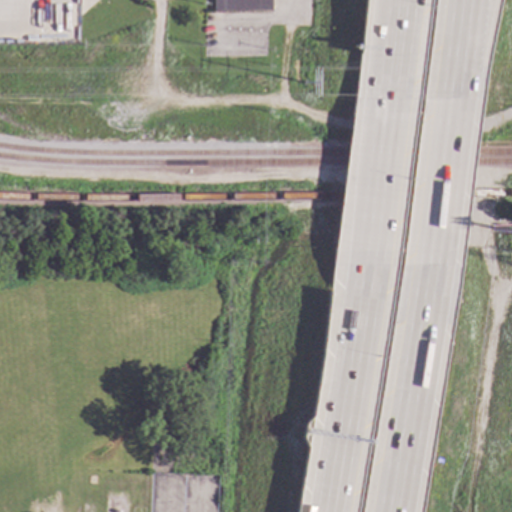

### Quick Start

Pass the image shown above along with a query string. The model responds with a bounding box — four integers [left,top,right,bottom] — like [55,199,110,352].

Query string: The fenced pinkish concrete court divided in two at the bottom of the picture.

[152,473,220,512]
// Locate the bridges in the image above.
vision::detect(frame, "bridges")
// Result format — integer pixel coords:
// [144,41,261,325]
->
[302,0,505,512]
